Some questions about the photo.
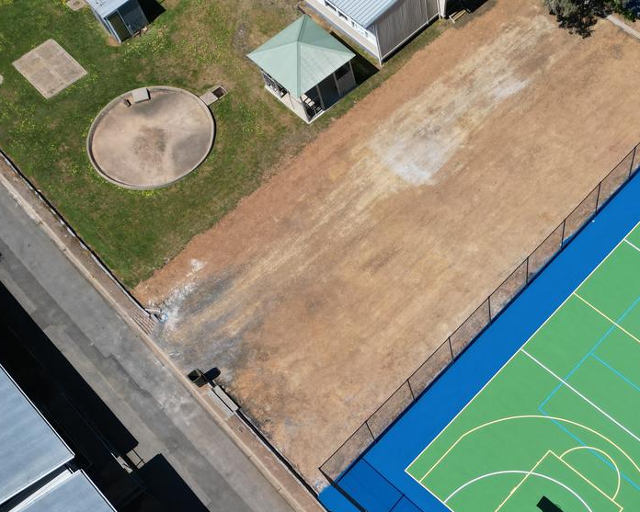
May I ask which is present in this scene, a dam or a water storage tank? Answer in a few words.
water storage tank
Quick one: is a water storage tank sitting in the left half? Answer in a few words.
Yes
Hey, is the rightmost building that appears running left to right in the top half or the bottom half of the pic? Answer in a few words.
top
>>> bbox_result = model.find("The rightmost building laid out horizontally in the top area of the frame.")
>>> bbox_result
[304,0,446,64]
